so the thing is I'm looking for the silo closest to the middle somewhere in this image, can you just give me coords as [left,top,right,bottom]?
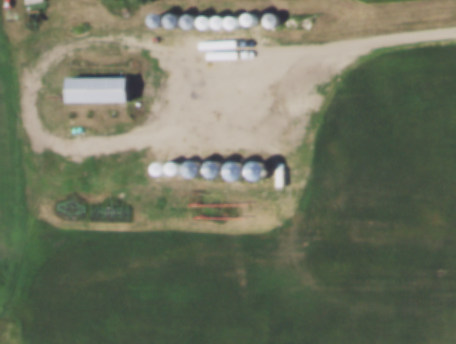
[220,162,242,184]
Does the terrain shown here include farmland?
Yes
